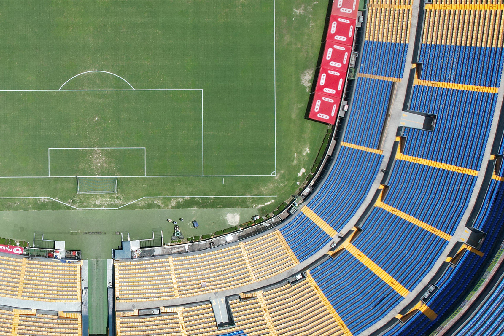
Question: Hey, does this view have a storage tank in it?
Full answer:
No, no storage tank can be seen from above.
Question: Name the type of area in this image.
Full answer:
What you see here is a sports ground.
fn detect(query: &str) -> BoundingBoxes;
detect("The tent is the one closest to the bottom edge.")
[304,93,340,126]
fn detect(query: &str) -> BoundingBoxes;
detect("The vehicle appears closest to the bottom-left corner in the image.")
[170,223,185,243]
